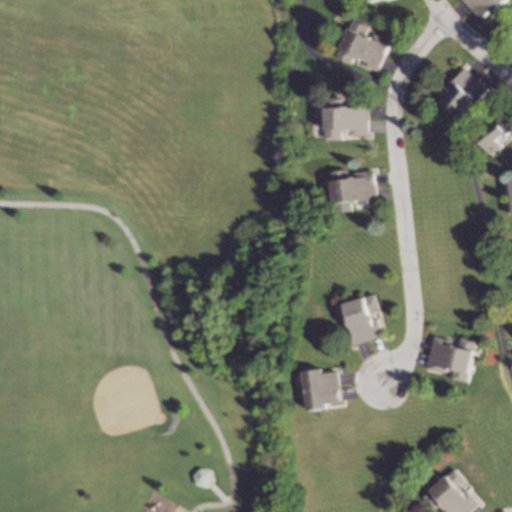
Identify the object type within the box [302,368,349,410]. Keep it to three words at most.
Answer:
house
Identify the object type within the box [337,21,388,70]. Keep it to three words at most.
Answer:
house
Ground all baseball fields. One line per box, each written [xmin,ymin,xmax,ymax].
[94,366,166,436]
